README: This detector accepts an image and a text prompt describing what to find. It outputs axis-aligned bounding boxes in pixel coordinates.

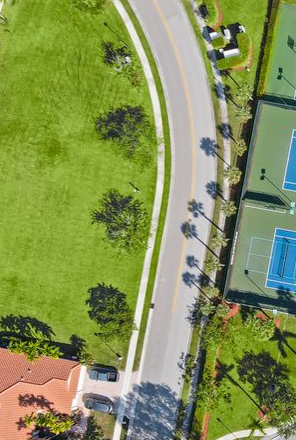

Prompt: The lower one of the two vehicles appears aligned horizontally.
[82,398,111,413]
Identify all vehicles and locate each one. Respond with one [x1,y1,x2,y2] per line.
[86,369,118,382]
[82,398,111,413]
